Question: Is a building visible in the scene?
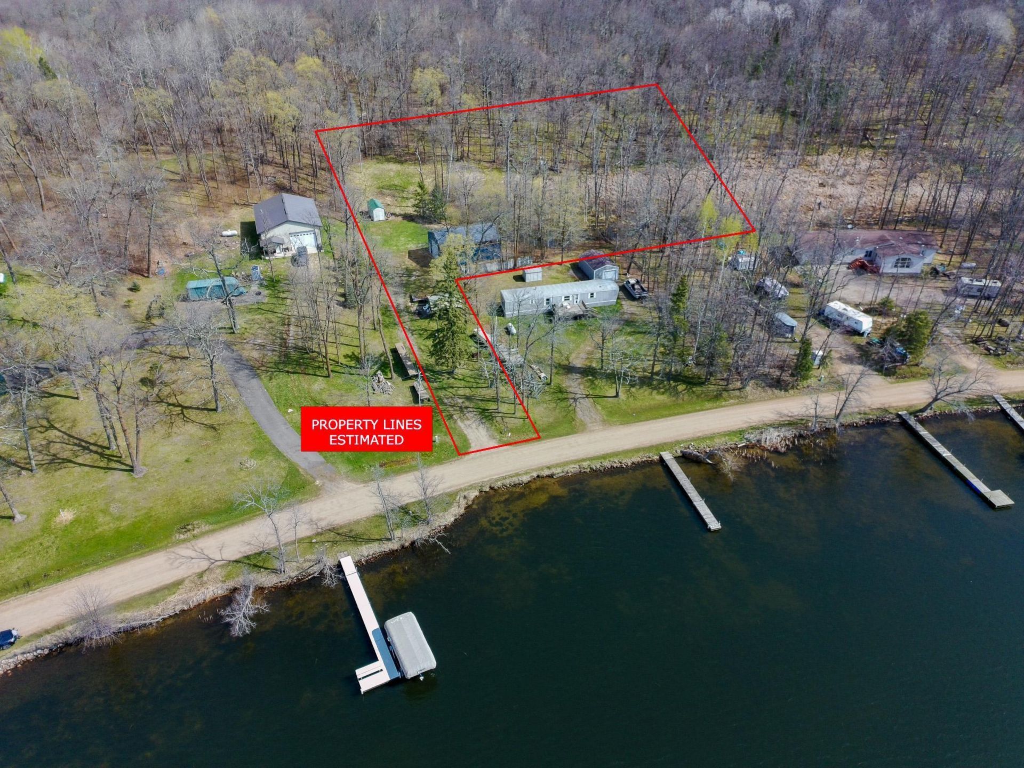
Yes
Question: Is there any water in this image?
Yes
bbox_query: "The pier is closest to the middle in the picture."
[660,452,720,530]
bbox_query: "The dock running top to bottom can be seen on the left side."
[341,558,399,695]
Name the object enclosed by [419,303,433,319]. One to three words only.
vehicle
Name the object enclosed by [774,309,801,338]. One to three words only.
shed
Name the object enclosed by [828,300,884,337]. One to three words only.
trailer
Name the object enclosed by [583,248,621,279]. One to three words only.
building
